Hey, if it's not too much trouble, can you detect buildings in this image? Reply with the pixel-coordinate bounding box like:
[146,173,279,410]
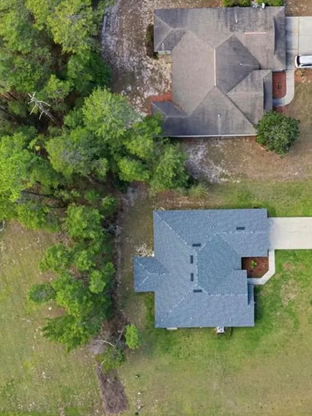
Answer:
[133,208,268,329]
[152,4,287,139]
